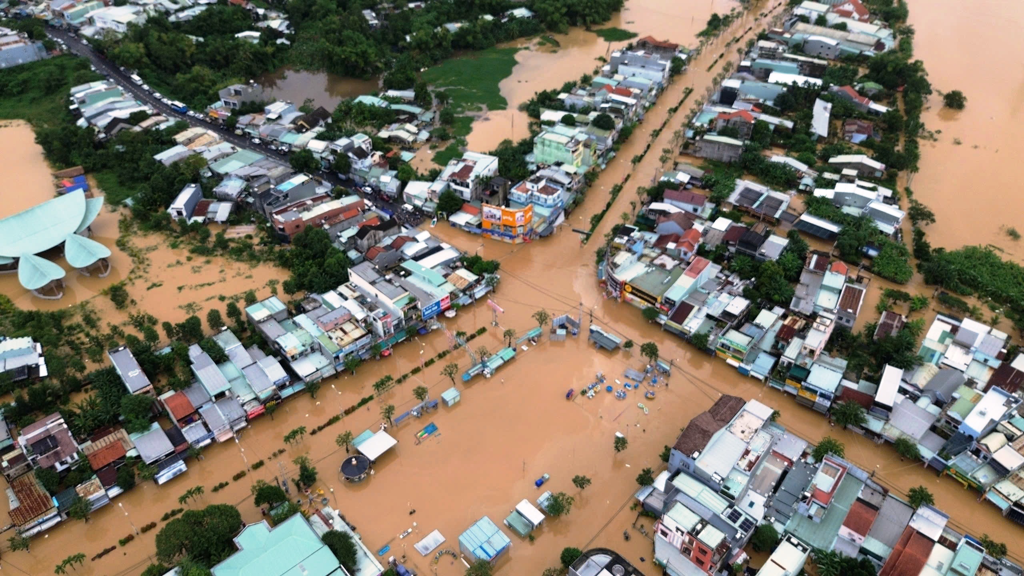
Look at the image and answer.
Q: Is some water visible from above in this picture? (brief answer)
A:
Yes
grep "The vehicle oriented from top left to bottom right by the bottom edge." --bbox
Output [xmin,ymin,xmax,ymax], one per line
[390,551,415,576]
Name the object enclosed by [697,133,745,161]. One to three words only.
building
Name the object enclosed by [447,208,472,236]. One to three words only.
building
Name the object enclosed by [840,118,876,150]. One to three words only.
shed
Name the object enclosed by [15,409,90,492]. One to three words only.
house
